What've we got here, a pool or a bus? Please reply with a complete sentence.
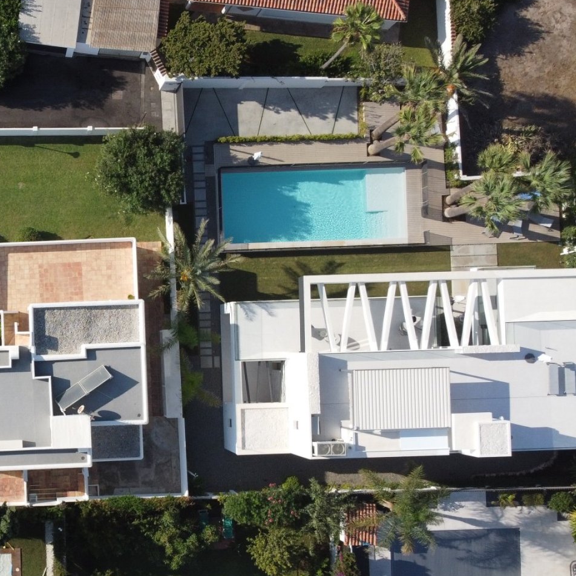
The image shows a pool.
